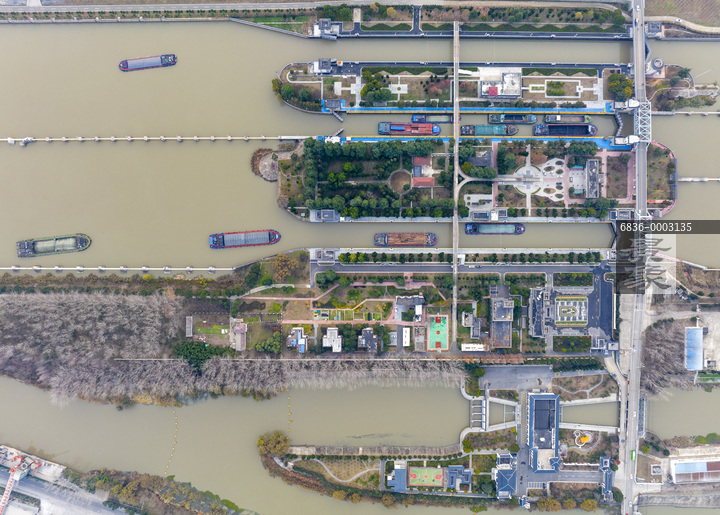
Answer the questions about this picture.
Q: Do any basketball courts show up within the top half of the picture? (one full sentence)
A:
No, looking within the top half of the picture, there is no basketball court.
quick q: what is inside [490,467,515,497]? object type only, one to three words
building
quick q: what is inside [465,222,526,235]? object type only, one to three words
ship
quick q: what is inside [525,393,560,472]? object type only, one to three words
building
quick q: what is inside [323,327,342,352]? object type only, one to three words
house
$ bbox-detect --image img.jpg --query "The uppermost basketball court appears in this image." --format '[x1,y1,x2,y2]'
[428,314,449,352]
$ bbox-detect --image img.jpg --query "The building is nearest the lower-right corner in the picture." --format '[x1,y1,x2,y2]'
[666,456,720,484]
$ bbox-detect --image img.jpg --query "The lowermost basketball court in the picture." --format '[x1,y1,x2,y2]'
[408,466,444,486]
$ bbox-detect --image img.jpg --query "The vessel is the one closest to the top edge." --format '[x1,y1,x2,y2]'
[117,54,178,70]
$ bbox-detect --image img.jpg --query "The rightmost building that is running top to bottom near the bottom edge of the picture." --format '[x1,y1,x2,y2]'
[598,454,611,500]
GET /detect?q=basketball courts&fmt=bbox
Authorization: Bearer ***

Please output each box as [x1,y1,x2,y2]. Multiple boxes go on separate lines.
[408,466,444,486]
[428,314,449,352]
